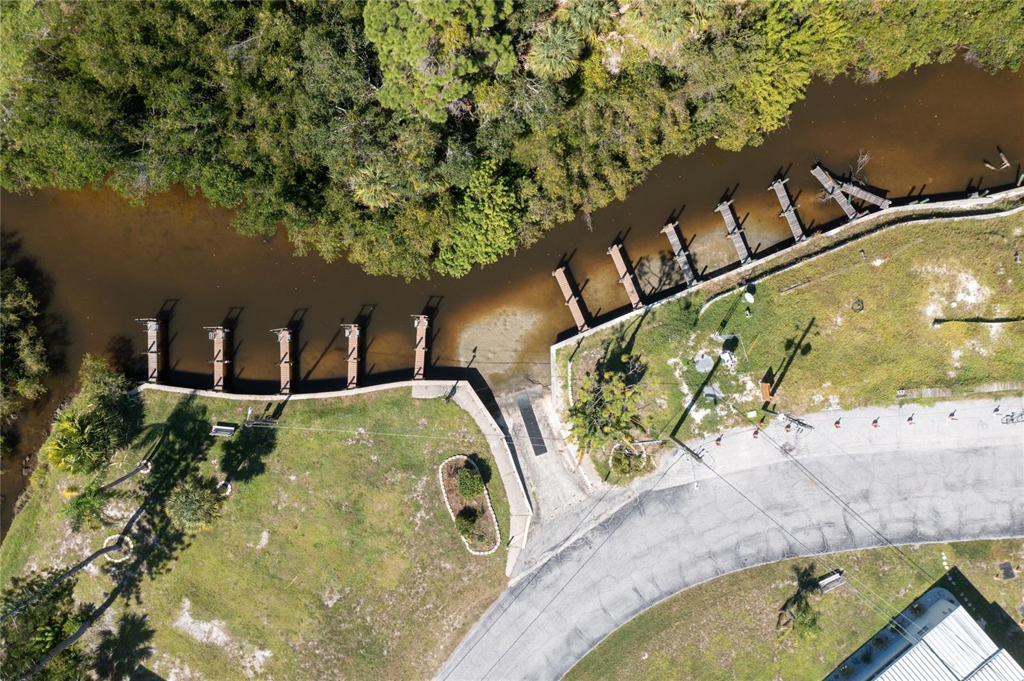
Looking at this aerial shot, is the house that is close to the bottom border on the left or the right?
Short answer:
right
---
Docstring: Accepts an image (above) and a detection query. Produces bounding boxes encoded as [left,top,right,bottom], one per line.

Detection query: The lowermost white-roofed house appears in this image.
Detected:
[848,602,1024,681]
